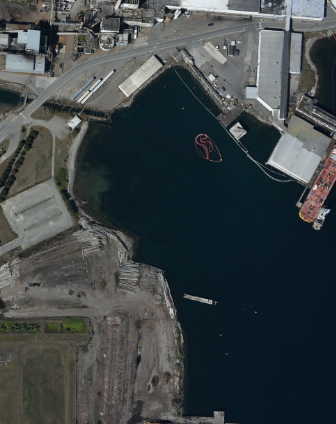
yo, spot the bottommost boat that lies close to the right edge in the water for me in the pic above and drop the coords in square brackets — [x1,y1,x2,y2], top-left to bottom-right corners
[313,209,327,230]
